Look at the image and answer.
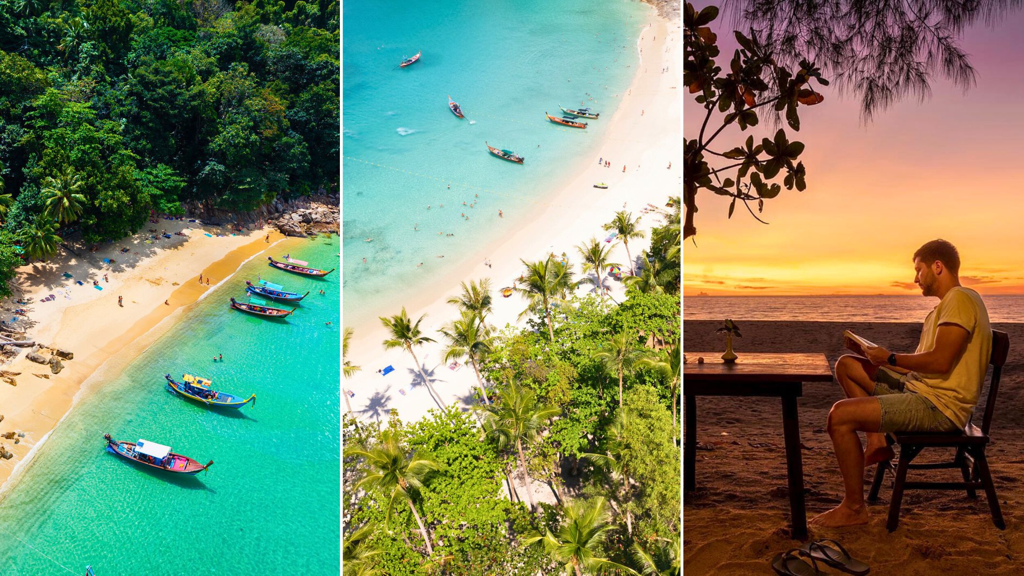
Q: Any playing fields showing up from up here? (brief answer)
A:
No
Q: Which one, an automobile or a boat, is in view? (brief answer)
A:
boat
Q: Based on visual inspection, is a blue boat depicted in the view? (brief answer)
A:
Yes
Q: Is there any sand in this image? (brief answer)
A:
Yes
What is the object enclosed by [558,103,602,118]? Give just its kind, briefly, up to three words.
boat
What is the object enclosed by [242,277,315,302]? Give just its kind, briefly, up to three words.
boat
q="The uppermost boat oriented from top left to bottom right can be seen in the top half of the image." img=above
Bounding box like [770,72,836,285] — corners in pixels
[449,94,467,126]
